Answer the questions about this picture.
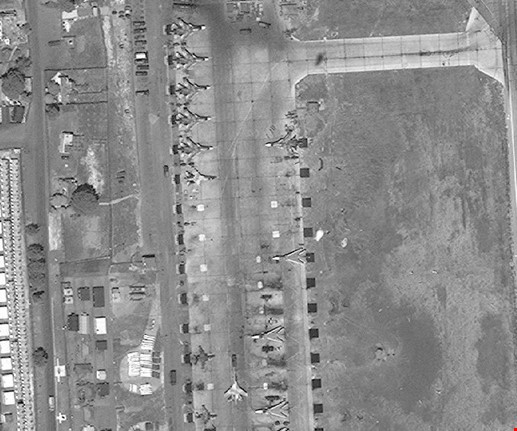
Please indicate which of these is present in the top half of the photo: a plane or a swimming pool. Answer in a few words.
plane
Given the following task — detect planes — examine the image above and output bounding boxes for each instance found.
[179,138,212,159]
[255,403,289,419]
[173,49,208,70]
[195,405,219,426]
[175,78,208,99]
[177,109,212,129]
[182,167,217,188]
[172,18,204,39]
[192,346,216,367]
[274,248,307,264]
[267,132,299,153]
[253,327,286,343]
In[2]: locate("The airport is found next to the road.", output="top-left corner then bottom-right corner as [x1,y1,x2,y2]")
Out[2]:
[172,0,517,431]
